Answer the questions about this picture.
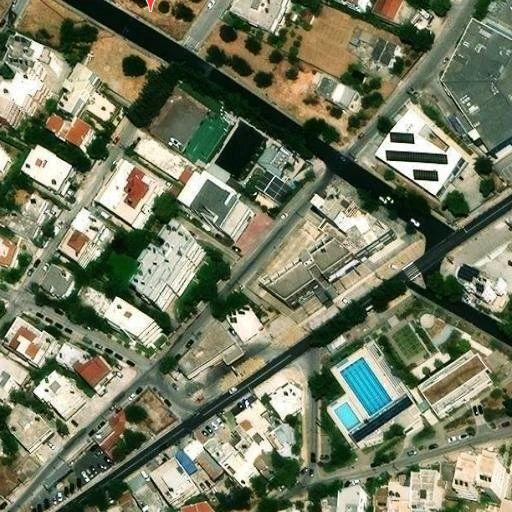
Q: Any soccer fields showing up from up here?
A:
Yes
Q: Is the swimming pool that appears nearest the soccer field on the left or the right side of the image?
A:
right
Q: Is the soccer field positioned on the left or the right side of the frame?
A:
right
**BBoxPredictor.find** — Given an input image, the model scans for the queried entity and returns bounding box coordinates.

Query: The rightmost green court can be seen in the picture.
[184,112,230,164]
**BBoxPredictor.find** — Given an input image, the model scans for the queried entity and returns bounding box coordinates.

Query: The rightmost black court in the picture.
[210,118,268,182]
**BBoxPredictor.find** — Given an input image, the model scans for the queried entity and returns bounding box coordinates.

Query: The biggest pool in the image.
[330,347,404,417]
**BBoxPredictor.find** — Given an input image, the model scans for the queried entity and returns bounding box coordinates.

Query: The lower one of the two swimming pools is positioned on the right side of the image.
[327,394,365,440]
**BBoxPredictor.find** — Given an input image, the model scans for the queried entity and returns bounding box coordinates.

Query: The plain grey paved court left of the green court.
[152,94,204,151]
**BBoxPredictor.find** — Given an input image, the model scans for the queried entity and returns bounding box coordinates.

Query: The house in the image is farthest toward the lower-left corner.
[7,404,58,456]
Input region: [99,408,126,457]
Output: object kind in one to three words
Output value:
building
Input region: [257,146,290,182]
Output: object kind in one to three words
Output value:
house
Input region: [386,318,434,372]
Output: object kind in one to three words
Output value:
soccer field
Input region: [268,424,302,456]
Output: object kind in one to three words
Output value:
house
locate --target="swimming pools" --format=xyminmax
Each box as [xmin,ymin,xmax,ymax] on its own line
[330,347,404,417]
[327,394,365,440]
